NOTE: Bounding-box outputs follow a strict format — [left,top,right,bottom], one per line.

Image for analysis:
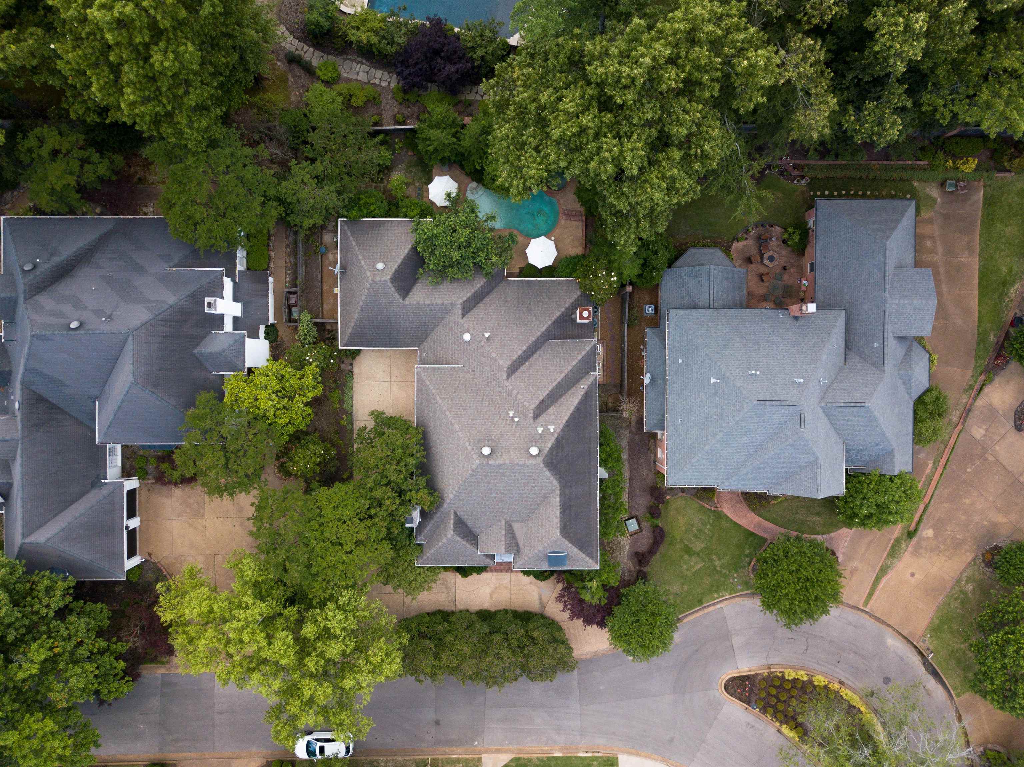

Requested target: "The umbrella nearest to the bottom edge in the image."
[525,236,558,268]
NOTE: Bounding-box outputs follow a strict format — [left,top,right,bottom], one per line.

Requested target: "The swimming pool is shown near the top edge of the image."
[364,0,519,44]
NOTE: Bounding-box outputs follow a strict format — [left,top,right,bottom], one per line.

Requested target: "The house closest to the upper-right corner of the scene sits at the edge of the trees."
[642,198,937,499]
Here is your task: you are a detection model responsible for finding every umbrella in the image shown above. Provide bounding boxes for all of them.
[525,236,558,268]
[428,175,458,204]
